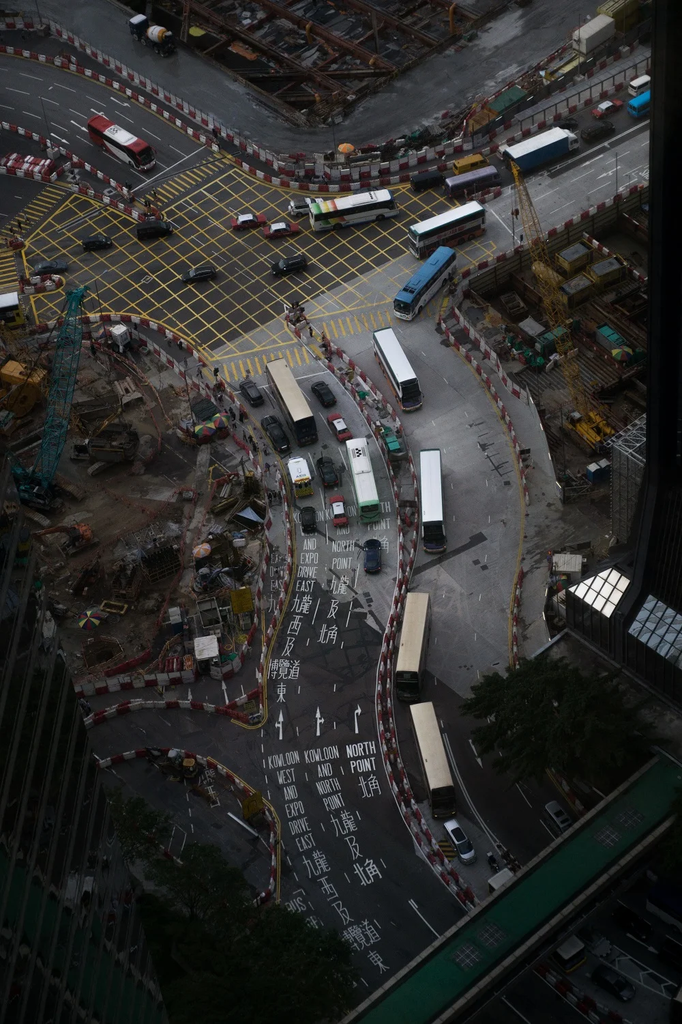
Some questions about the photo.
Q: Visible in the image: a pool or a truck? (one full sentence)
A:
The one in the frame is a truck.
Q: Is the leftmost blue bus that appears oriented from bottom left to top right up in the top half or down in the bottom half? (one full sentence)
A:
The leftmost blue bus that appears oriented from bottom left to top right is in the top half of the image.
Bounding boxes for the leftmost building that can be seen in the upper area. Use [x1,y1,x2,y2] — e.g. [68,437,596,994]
[109,324,130,349]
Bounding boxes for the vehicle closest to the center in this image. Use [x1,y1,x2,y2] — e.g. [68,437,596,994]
[328,497,347,526]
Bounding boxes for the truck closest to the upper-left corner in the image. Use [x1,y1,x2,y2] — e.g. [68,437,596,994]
[130,14,177,55]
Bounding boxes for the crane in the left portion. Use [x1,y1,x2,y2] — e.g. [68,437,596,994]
[10,286,121,516]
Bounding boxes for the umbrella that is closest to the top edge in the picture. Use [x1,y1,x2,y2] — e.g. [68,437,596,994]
[338,143,355,159]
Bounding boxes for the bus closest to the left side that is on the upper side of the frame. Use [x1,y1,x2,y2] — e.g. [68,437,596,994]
[0,289,31,327]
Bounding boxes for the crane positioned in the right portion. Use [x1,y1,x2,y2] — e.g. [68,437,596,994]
[508,160,632,460]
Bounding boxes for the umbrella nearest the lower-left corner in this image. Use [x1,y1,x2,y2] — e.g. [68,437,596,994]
[78,612,101,632]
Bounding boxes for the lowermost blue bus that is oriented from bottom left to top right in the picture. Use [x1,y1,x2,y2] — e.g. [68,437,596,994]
[392,247,457,317]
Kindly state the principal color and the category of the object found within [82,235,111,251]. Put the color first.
black car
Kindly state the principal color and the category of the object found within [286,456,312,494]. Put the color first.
white vehicle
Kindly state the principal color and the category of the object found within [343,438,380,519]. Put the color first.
white bus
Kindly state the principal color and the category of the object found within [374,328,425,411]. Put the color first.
white bus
